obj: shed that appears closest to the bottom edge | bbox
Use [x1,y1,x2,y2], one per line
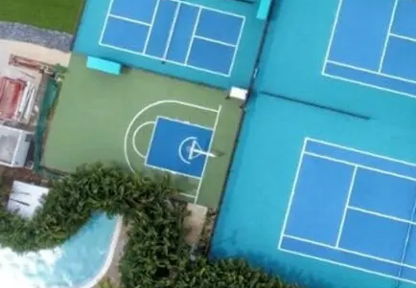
[6,180,53,217]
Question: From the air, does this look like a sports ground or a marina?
sports ground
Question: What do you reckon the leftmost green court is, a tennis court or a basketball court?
basketball court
